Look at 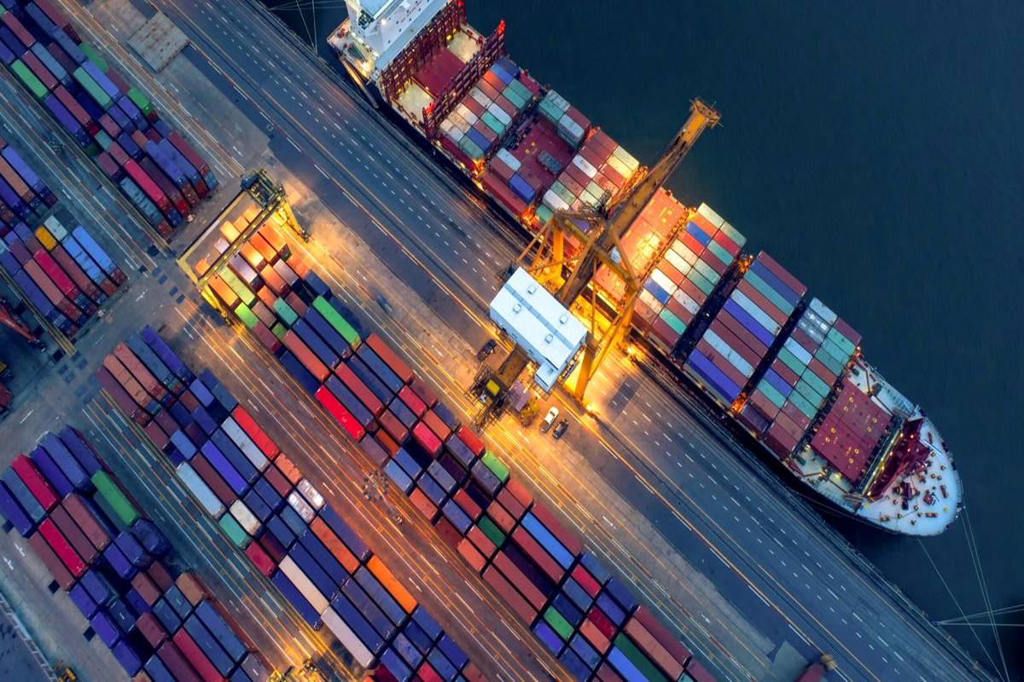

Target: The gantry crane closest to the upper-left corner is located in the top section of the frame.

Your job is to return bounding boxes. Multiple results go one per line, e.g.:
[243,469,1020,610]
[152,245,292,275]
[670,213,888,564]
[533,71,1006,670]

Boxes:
[173,174,328,343]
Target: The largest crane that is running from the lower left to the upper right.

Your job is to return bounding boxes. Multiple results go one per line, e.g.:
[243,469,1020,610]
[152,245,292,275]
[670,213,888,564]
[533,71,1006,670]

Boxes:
[446,101,720,441]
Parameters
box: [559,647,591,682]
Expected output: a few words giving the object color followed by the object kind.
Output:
blue shipping container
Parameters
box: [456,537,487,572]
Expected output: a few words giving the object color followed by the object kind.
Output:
red shipping container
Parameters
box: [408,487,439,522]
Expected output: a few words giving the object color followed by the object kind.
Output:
red shipping container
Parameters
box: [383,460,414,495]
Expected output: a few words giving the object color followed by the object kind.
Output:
blue shipping container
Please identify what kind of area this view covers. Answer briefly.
port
